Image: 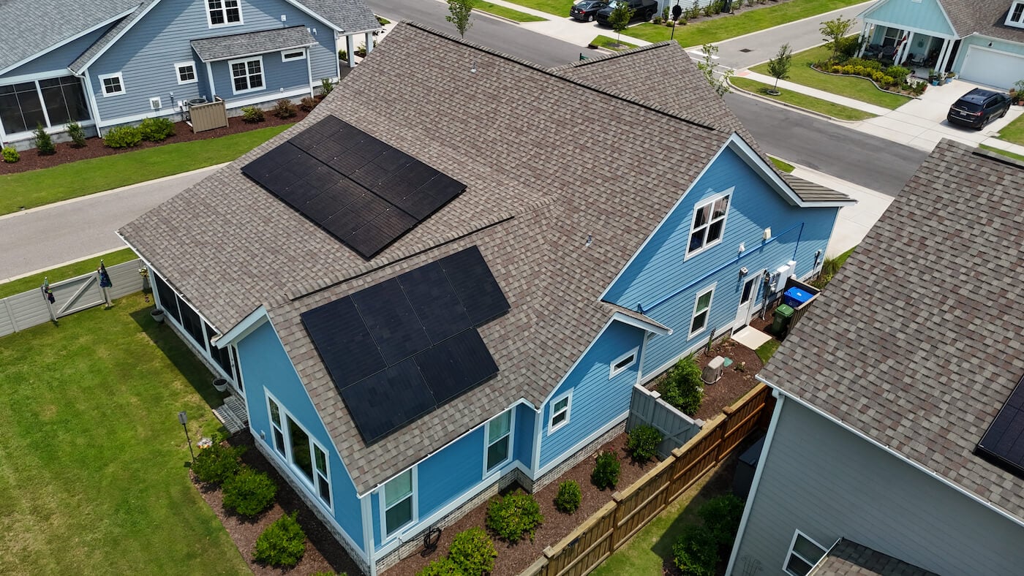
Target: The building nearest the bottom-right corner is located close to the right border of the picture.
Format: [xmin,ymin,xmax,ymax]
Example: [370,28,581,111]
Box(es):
[724,136,1024,576]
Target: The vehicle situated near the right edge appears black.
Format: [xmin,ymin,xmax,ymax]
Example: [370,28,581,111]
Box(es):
[948,85,1013,126]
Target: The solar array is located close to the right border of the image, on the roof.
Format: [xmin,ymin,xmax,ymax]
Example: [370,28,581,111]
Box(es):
[974,374,1024,479]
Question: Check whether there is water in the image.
No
